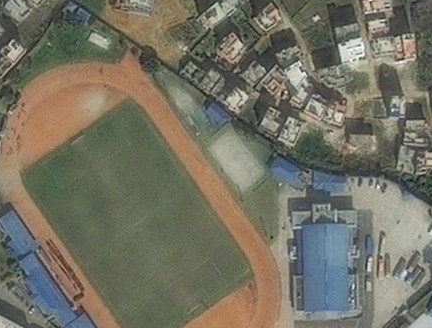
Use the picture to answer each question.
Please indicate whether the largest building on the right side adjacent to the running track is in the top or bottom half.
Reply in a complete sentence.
You can find the largest building on the right side adjacent to the running track in the bottom half.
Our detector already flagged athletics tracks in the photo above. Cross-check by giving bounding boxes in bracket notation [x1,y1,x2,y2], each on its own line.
[0,49,282,328]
